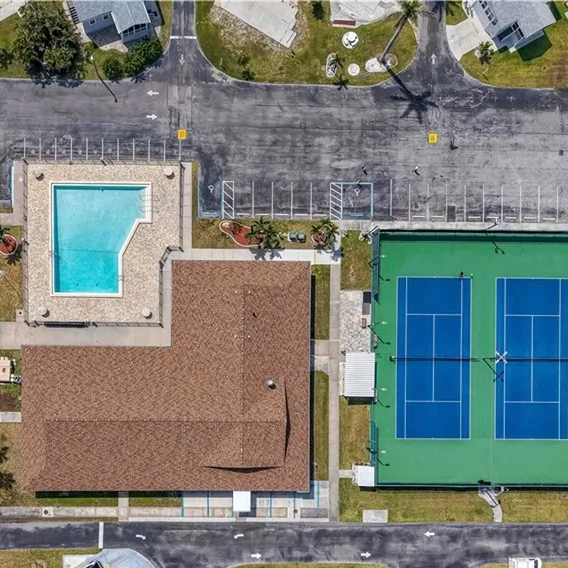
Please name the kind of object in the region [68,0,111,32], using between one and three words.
house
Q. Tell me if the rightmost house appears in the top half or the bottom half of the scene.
top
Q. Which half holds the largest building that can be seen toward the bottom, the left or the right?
left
